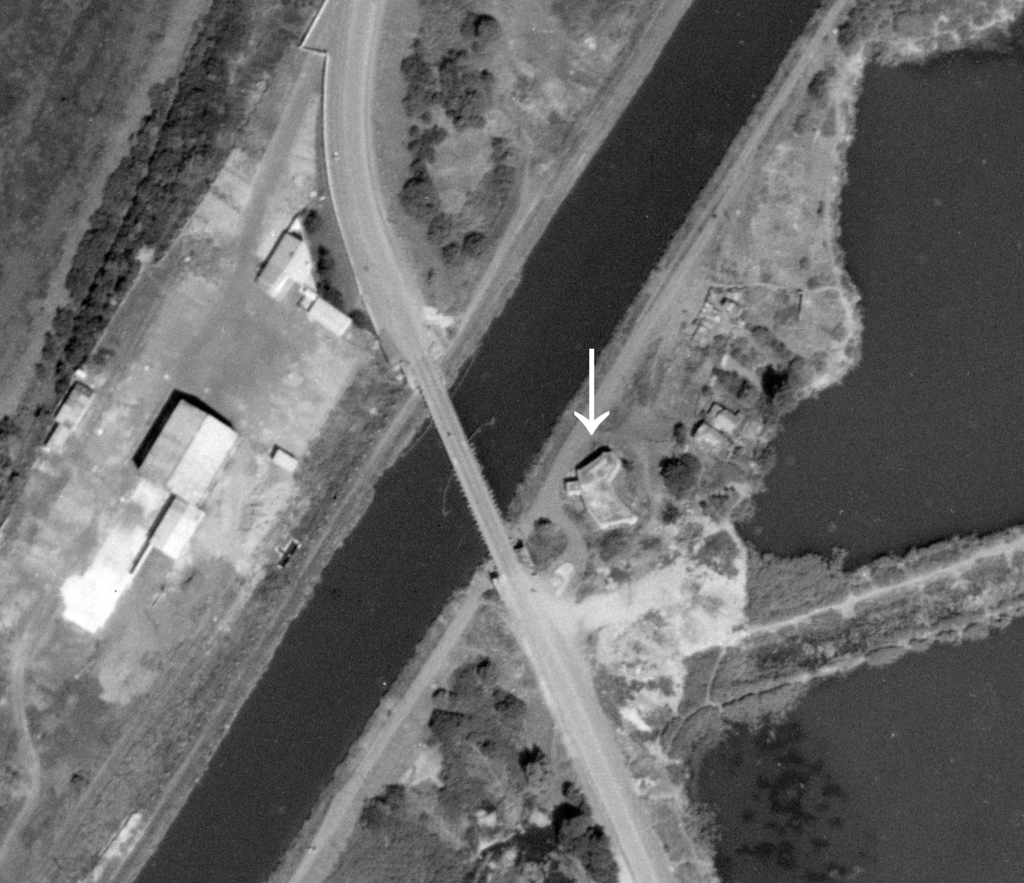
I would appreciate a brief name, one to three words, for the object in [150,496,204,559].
shed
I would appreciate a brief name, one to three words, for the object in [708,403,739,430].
house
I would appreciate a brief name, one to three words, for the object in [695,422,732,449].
house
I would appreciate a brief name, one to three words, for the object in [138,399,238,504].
barn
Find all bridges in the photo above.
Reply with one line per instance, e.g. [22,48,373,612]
[410,369,525,573]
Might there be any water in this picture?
Yes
